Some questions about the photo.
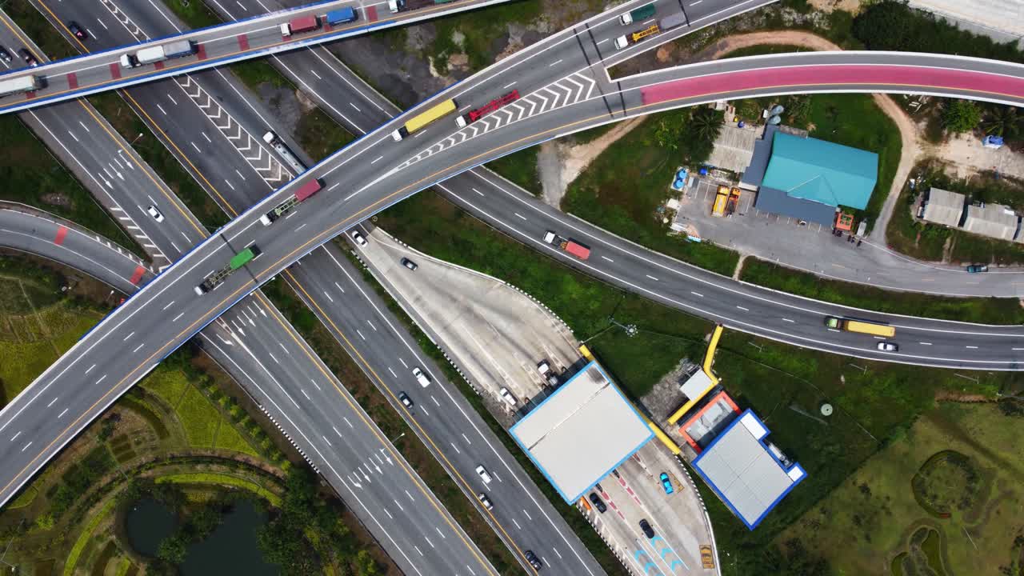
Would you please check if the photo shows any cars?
Yes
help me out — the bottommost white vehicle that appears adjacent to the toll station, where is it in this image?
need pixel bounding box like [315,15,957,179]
[499,387,518,408]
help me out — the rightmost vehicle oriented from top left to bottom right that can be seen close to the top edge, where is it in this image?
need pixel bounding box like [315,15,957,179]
[70,21,88,40]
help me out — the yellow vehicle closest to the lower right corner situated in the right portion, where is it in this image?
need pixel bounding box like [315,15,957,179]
[823,317,896,336]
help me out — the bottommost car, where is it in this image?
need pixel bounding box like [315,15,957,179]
[524,550,542,570]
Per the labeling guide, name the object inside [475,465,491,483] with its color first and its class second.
white car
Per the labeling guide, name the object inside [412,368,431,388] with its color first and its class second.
white vehicle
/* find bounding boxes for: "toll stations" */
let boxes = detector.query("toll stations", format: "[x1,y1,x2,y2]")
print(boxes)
[510,361,655,504]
